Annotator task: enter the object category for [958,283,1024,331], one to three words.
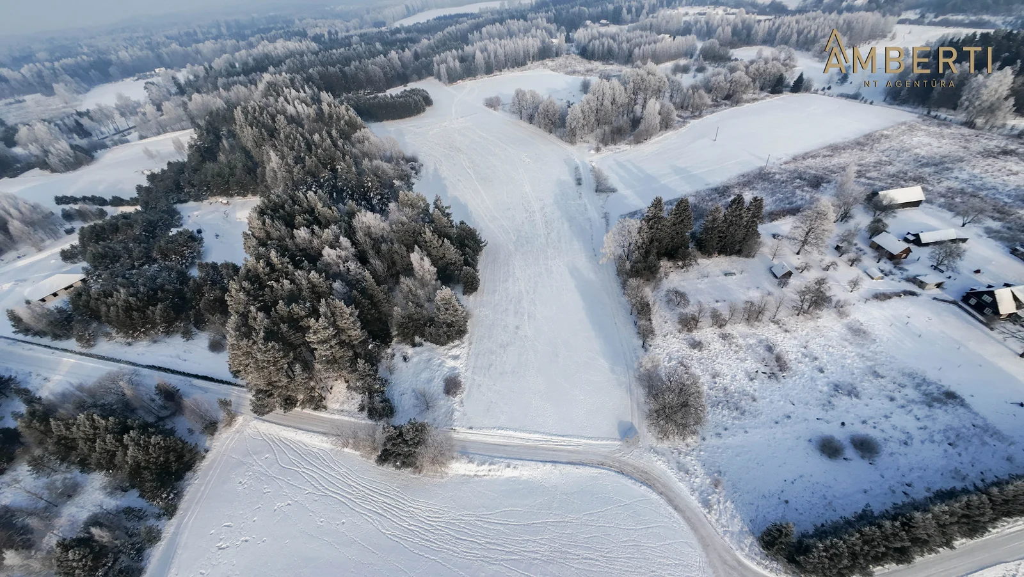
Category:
house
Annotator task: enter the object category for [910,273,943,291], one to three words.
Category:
shed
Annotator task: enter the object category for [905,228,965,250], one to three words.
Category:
shed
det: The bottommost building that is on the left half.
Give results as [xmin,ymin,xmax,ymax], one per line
[26,272,90,308]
